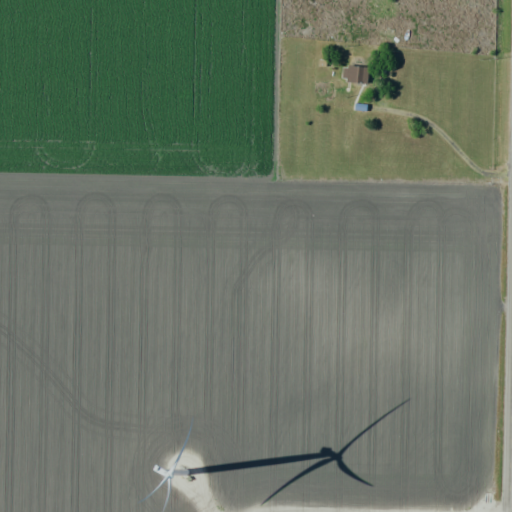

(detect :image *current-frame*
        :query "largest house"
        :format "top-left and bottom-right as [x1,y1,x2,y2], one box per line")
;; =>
[344,65,368,85]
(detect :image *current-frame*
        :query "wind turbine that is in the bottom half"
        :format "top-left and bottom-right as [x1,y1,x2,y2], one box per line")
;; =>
[139,422,194,512]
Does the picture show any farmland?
Yes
